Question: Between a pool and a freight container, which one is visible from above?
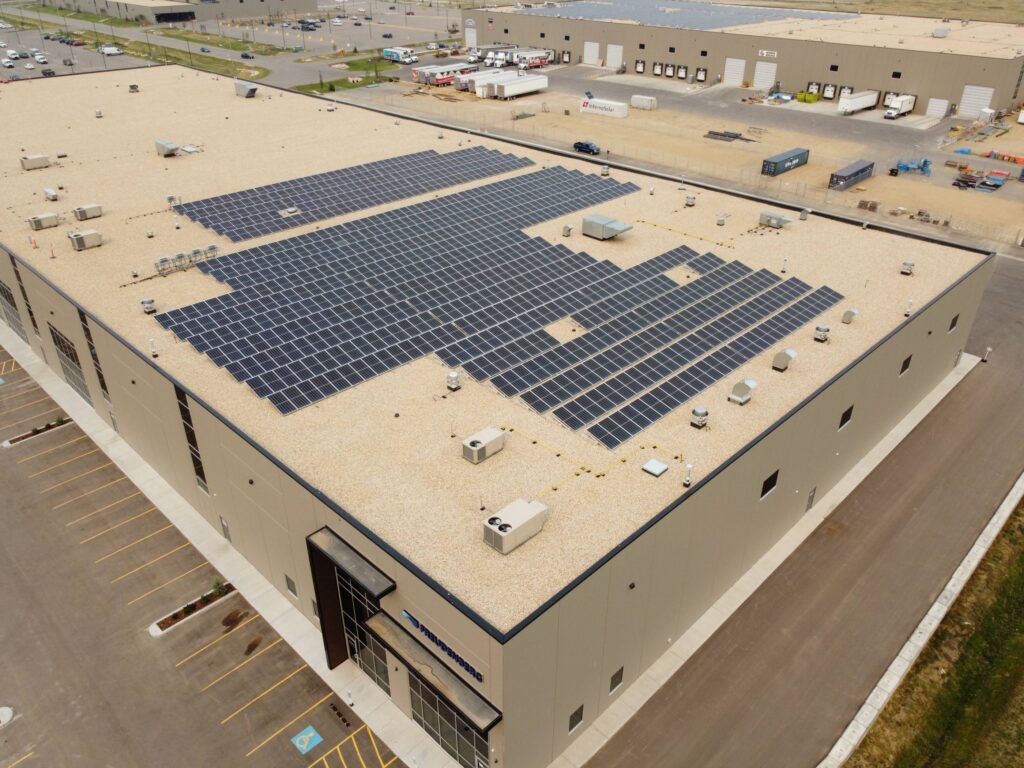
freight container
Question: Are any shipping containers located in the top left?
No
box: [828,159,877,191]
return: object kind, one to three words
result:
shipping container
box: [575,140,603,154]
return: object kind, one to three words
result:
vehicle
